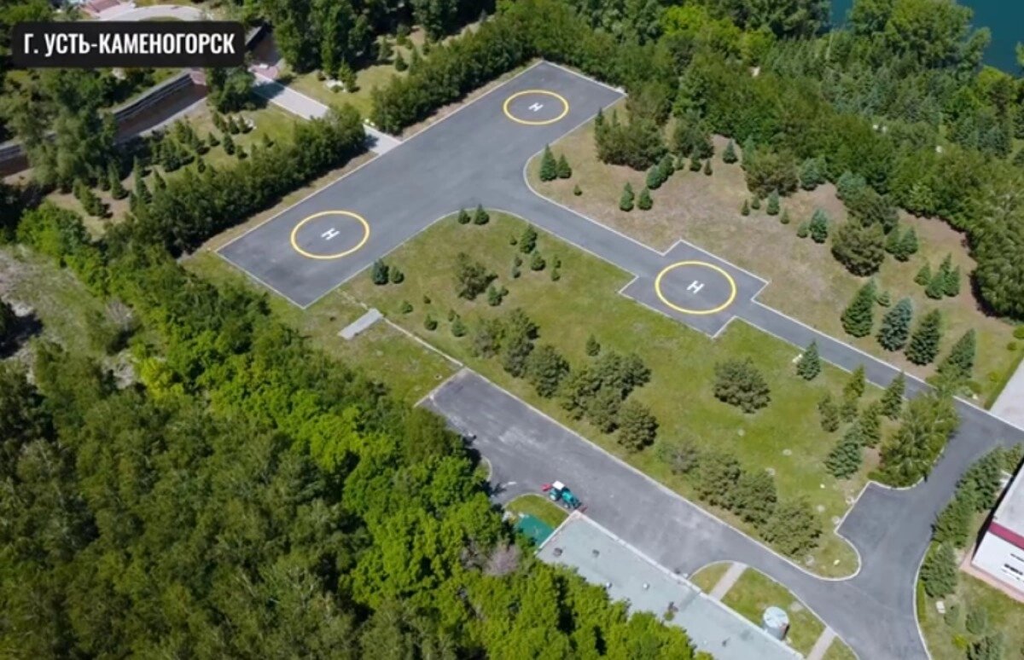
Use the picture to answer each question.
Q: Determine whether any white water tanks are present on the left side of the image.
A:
No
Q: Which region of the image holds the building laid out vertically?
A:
bottom right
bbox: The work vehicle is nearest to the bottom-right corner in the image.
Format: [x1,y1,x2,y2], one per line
[542,482,583,516]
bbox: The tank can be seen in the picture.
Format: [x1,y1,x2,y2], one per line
[765,603,795,639]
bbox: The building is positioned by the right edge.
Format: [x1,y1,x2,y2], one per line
[971,472,1024,594]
